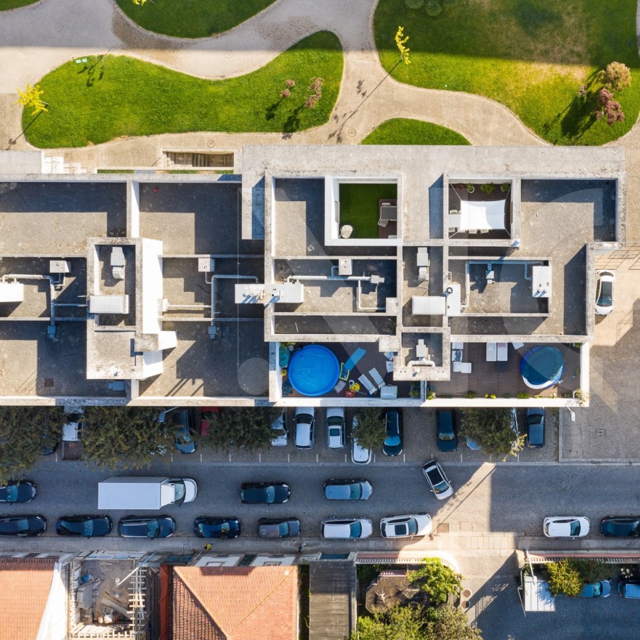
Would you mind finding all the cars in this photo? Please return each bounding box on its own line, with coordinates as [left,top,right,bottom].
[595,269,618,316]
[322,406,348,450]
[349,414,373,463]
[0,479,37,505]
[617,578,640,603]
[117,515,178,541]
[321,515,373,541]
[175,406,198,455]
[599,515,640,541]
[422,459,454,502]
[434,406,460,453]
[268,406,289,446]
[323,477,373,503]
[240,481,291,507]
[34,407,62,455]
[524,406,549,448]
[381,406,406,456]
[570,578,615,604]
[193,515,242,541]
[292,406,317,449]
[56,514,114,540]
[59,406,85,441]
[0,513,49,539]
[543,515,590,541]
[380,513,432,540]
[258,516,301,541]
